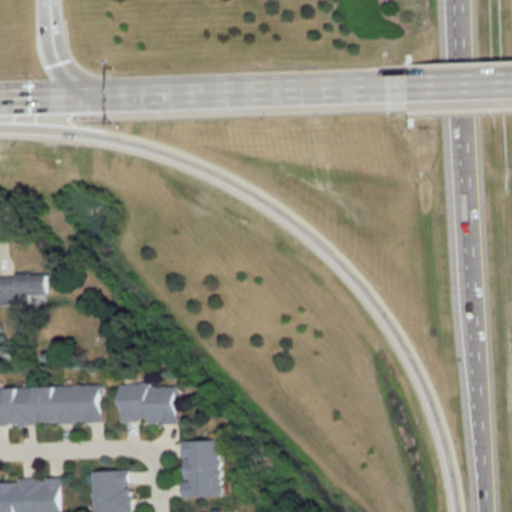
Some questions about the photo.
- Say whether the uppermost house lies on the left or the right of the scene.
left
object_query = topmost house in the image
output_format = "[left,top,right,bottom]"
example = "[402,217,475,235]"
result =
[0,276,48,304]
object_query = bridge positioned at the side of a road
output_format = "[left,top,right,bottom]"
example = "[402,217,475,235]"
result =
[385,60,512,116]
